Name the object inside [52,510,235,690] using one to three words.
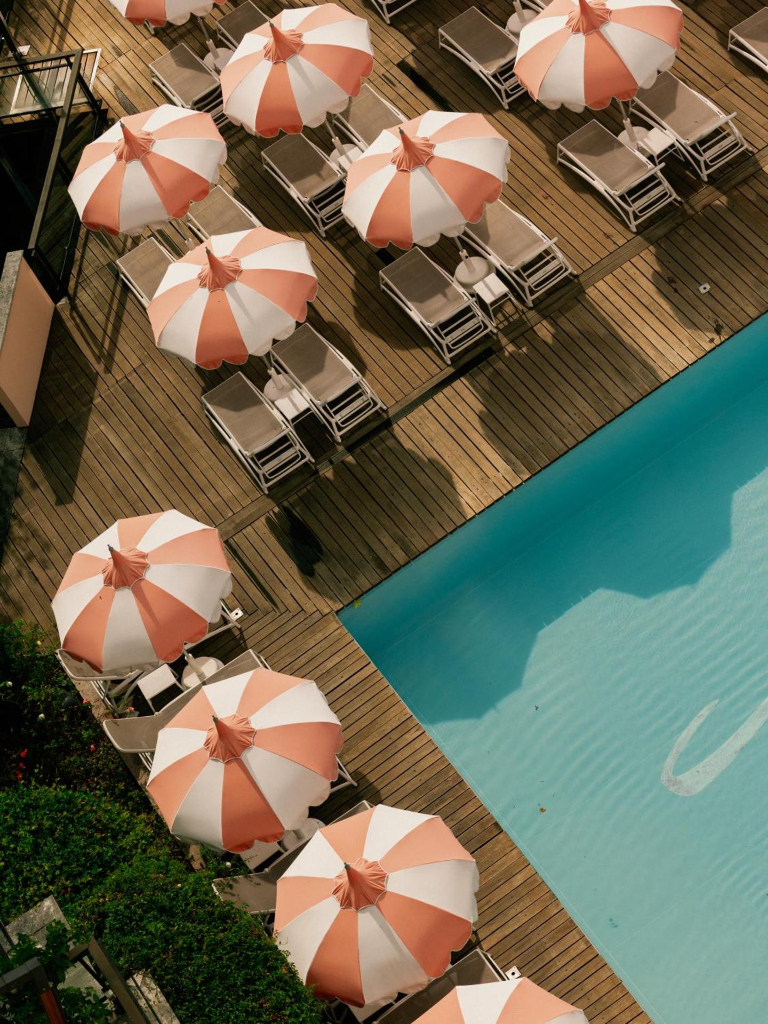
umbrella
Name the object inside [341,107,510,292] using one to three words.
umbrella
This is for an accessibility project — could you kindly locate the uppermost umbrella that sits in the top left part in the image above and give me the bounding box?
[110,0,233,77]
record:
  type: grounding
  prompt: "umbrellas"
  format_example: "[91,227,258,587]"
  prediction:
[146,224,318,410]
[512,0,683,159]
[110,0,233,77]
[508,0,536,40]
[341,107,510,292]
[271,802,478,1008]
[147,667,344,856]
[66,100,227,251]
[219,3,377,178]
[413,979,586,1024]
[52,510,235,690]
